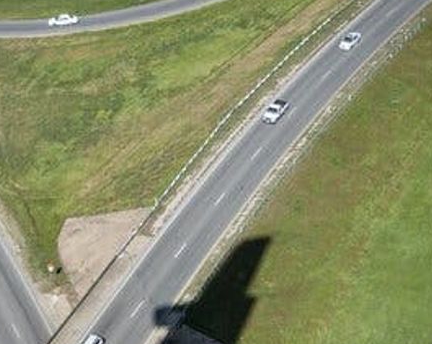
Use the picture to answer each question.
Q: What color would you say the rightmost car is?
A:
white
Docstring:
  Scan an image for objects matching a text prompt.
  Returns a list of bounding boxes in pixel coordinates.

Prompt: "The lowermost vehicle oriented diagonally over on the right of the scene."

[260,97,291,127]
